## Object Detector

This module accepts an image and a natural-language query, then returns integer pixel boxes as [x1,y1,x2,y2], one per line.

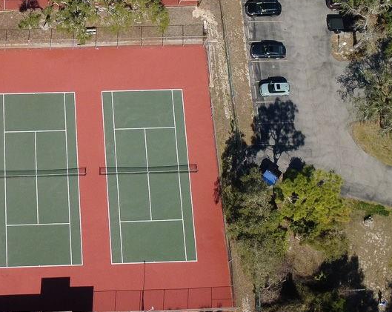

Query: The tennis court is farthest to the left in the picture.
[0,91,83,269]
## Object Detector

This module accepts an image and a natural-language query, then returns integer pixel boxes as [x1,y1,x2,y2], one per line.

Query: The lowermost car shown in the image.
[260,79,292,97]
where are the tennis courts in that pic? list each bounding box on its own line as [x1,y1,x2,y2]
[101,89,198,264]
[0,91,83,269]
